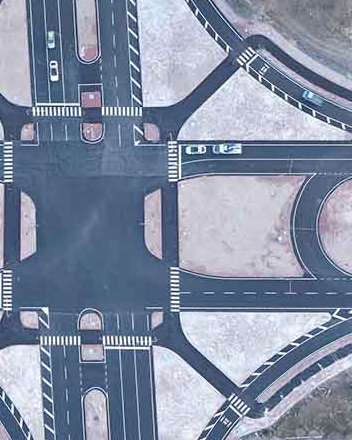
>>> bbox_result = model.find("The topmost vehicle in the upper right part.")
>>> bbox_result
[303,90,325,106]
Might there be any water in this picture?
No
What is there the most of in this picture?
paved ground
